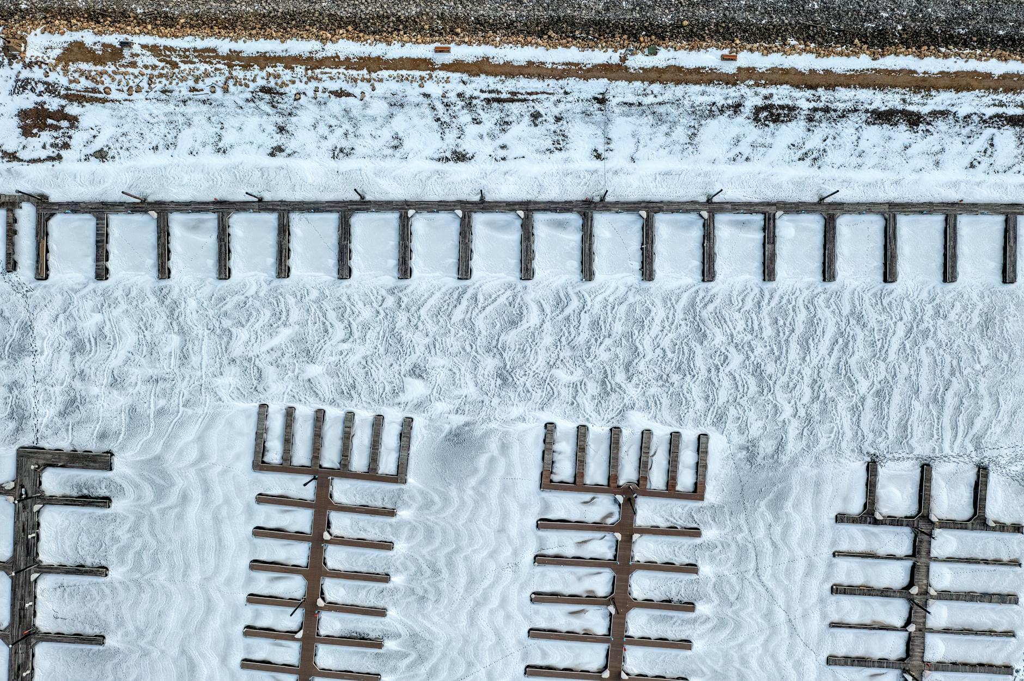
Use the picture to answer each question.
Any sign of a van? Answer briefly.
No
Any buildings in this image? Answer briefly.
No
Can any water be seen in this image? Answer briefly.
Yes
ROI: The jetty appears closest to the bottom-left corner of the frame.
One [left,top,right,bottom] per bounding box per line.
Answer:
[0,449,113,681]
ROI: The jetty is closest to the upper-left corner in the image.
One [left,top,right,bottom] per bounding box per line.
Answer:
[0,194,52,271]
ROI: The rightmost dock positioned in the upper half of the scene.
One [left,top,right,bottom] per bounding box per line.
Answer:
[35,196,1024,283]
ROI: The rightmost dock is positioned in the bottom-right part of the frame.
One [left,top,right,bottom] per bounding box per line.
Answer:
[826,463,1023,681]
